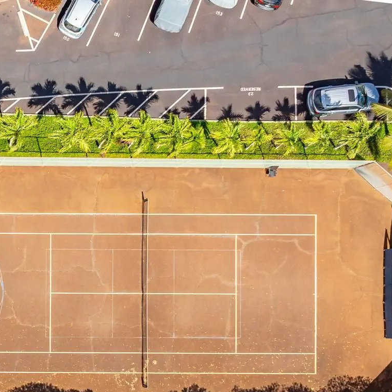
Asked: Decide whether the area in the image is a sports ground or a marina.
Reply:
sports ground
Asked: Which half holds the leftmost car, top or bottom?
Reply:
top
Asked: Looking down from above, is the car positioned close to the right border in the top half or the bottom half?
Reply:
top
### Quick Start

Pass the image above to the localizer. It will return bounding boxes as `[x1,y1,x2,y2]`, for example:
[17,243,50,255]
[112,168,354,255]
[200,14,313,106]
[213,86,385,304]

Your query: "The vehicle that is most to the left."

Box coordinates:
[59,0,104,41]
